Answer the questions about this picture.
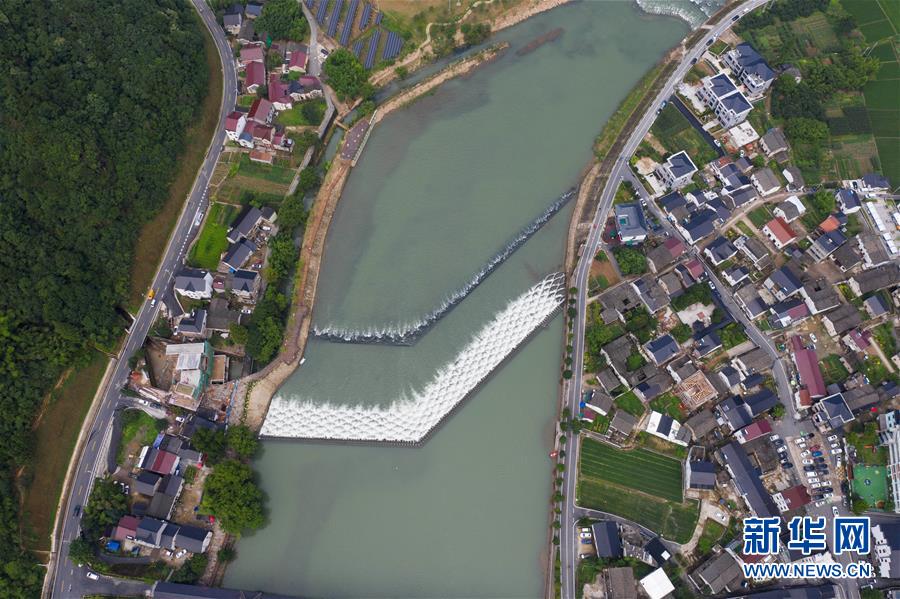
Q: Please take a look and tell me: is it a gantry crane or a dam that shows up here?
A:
dam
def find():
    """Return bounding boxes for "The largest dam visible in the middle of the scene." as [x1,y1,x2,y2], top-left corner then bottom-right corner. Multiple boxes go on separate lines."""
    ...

[258,266,566,450]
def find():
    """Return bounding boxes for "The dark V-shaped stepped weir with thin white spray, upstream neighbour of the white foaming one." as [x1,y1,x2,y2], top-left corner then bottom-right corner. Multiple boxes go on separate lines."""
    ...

[308,177,585,346]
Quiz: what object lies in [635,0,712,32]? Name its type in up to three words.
dam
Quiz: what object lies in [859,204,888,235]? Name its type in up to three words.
shed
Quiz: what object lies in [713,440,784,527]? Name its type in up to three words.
building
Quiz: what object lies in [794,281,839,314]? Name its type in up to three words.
house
